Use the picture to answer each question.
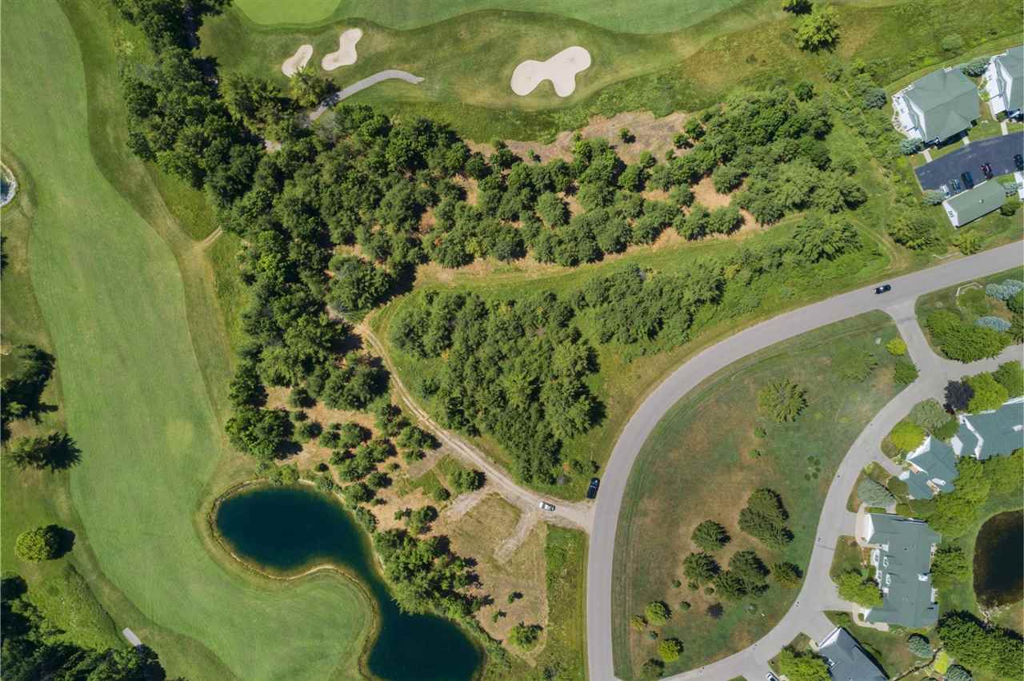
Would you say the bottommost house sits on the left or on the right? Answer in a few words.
right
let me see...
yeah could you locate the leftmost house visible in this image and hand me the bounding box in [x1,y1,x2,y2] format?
[816,624,890,681]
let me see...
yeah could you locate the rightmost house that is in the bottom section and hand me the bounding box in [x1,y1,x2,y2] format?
[952,392,1024,461]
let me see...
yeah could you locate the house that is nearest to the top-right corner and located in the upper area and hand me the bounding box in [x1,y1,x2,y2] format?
[980,42,1024,112]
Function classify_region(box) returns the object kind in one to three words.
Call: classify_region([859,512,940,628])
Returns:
house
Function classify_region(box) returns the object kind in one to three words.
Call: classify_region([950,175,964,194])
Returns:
car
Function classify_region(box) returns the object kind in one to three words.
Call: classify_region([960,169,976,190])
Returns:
vehicle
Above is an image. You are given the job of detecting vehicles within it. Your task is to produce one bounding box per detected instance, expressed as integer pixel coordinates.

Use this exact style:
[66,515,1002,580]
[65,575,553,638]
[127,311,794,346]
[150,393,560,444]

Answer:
[950,175,964,194]
[960,169,976,190]
[939,181,953,199]
[586,476,600,500]
[980,161,994,180]
[1011,152,1024,171]
[873,284,891,294]
[539,500,555,511]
